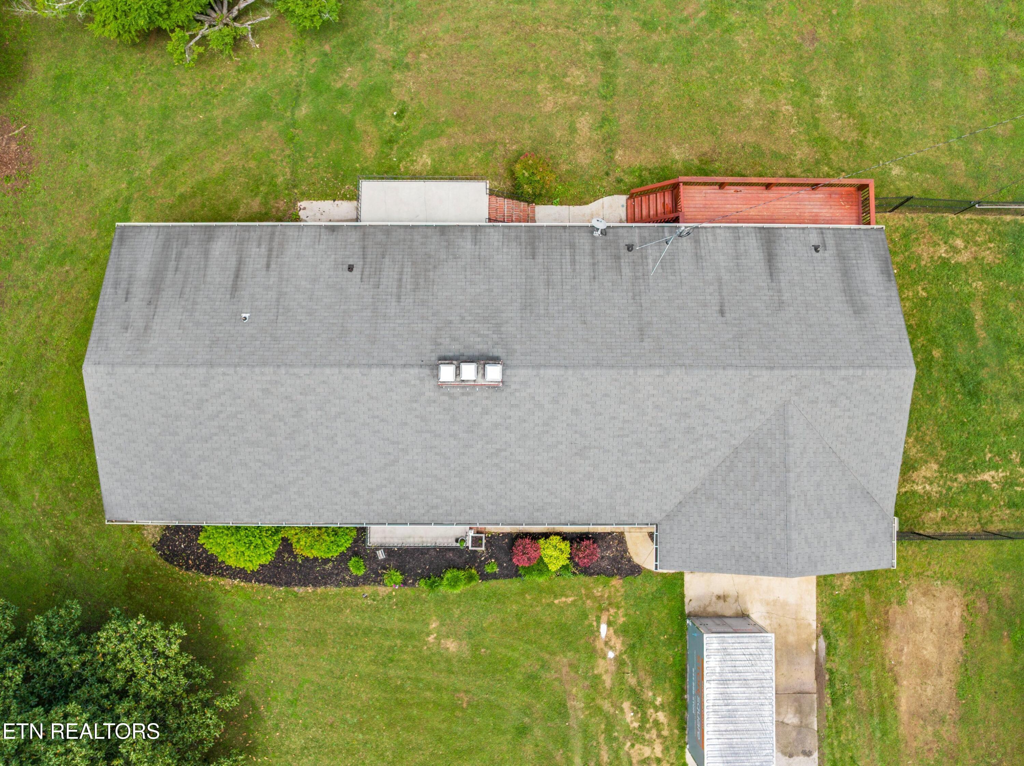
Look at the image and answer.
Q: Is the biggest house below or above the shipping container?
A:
above it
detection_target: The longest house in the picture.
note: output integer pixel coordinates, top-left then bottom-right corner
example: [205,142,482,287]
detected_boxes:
[82,222,916,578]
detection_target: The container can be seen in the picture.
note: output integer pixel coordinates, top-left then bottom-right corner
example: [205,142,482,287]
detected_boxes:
[687,617,775,766]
